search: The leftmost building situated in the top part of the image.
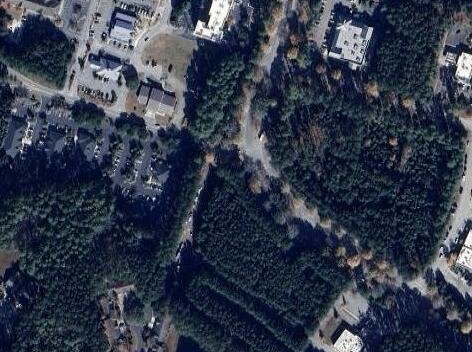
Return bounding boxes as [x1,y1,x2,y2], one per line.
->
[2,118,27,155]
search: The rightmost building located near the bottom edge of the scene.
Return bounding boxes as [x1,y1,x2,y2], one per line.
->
[334,330,364,352]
